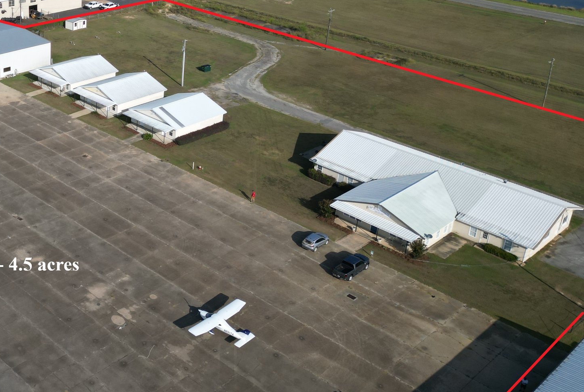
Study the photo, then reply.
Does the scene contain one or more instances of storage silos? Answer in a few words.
No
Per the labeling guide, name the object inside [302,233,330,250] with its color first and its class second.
gray car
